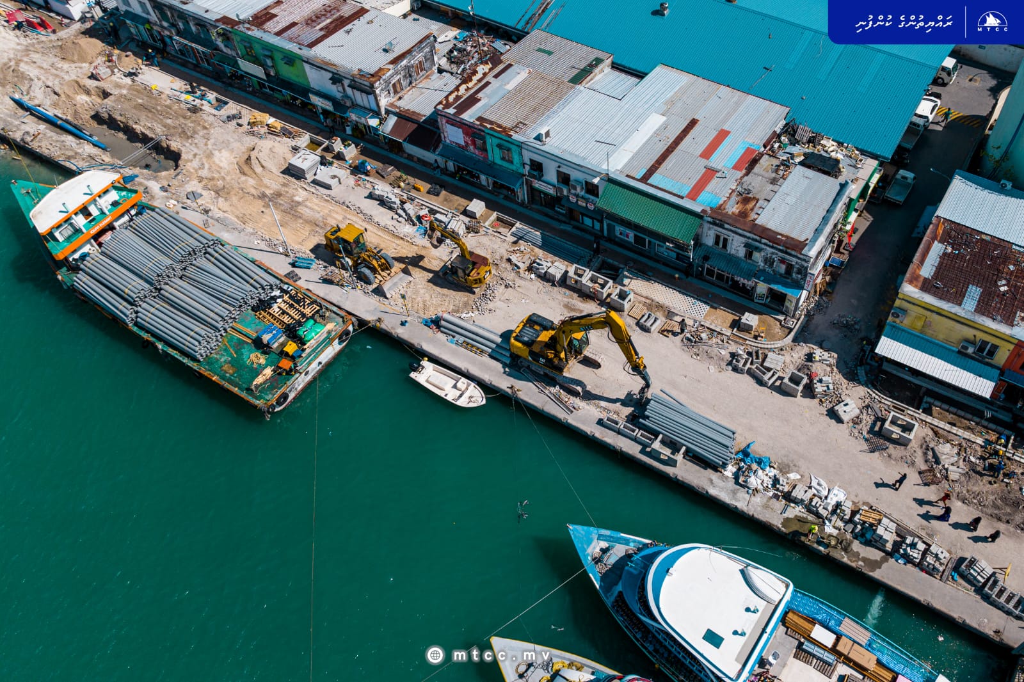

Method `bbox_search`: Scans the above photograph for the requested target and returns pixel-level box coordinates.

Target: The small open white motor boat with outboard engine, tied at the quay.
[407,358,485,410]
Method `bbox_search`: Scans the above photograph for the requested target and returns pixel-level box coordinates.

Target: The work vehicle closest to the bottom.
[507,309,649,405]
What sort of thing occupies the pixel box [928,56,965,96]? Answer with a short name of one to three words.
truck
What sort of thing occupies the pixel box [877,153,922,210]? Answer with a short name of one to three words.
truck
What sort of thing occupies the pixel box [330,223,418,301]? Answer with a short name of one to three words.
work vehicle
